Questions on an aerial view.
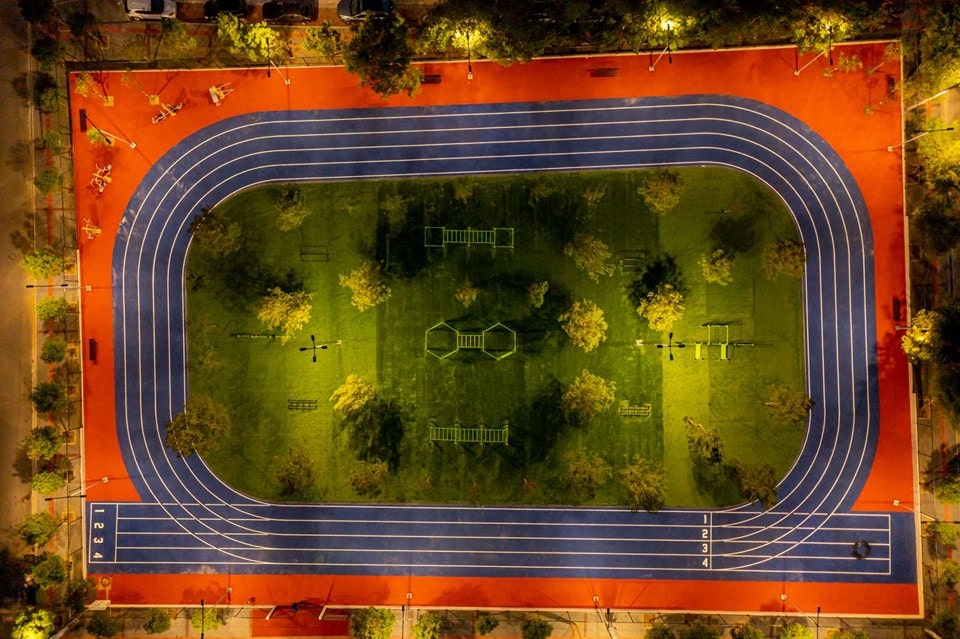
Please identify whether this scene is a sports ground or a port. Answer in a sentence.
What you see here is a sports ground.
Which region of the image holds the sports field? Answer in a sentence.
The sports field sits in the center section of the image.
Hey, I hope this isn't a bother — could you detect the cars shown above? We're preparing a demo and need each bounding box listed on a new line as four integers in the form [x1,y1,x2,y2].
[338,0,393,22]
[261,0,317,22]
[120,0,174,22]
[200,0,250,21]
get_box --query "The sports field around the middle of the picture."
[188,166,806,508]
